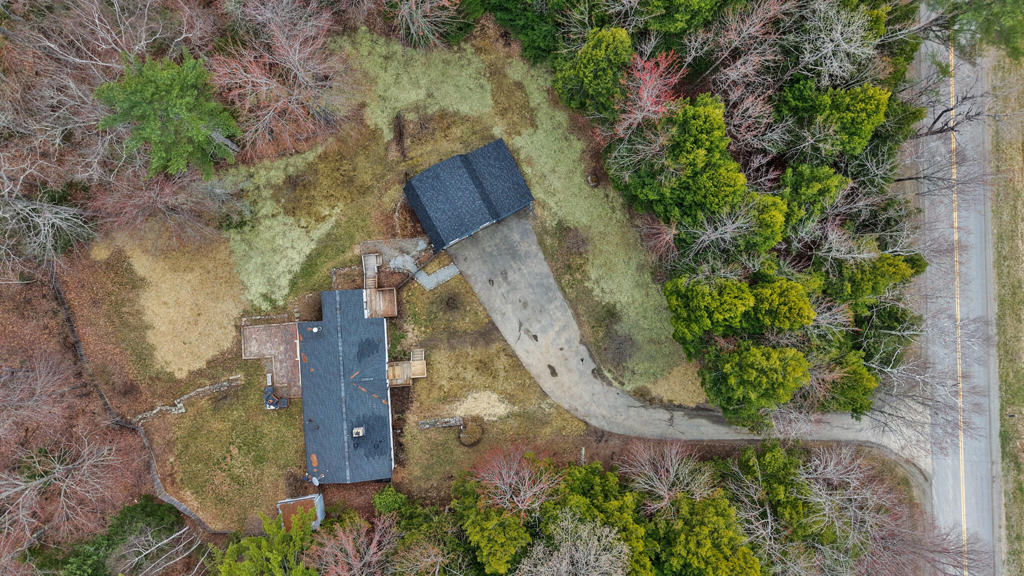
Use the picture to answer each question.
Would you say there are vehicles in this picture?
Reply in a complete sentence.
No, no vehicle can be seen from above.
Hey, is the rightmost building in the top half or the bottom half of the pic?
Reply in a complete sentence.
It is in the top half that the rightmost building appears.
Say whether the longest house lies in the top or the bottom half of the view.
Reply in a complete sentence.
The bottom half of the photo is where the longest house is.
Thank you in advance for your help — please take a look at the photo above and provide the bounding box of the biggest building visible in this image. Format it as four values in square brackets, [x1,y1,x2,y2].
[297,290,395,483]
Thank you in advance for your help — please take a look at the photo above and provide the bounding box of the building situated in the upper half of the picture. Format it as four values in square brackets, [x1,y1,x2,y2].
[403,138,534,255]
